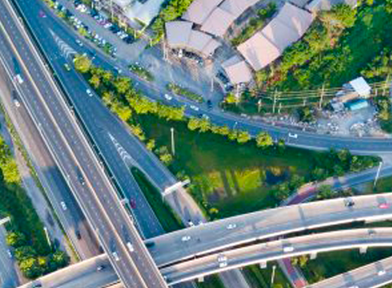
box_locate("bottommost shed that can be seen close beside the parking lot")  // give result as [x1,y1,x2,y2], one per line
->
[221,58,254,90]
